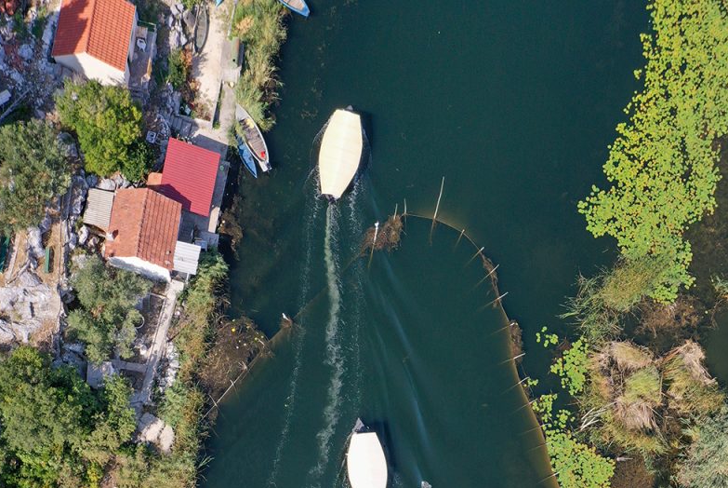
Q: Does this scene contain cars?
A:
No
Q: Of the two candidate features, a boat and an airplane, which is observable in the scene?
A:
boat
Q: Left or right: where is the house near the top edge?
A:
left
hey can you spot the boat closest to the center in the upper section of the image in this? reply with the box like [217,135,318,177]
[319,104,363,210]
